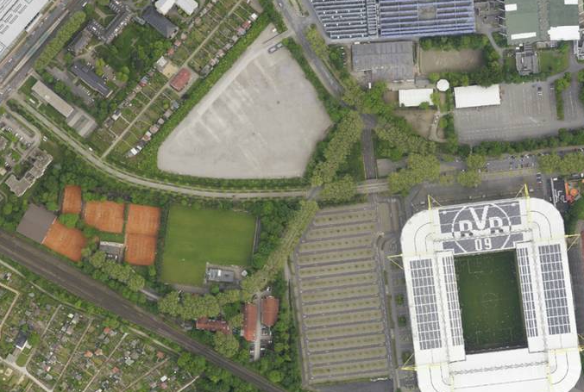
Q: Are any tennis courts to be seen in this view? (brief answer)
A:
Yes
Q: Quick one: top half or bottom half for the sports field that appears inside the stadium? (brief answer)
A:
bottom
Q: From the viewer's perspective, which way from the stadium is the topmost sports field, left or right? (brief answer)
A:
to the left of it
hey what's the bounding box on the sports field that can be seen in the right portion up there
[453,248,527,351]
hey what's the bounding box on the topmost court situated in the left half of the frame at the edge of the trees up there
[62,185,81,212]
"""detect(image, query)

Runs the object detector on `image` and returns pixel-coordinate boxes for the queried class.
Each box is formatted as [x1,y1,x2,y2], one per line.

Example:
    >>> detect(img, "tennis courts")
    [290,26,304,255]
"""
[124,236,157,265]
[84,201,124,233]
[42,219,86,260]
[126,205,159,236]
[62,185,81,212]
